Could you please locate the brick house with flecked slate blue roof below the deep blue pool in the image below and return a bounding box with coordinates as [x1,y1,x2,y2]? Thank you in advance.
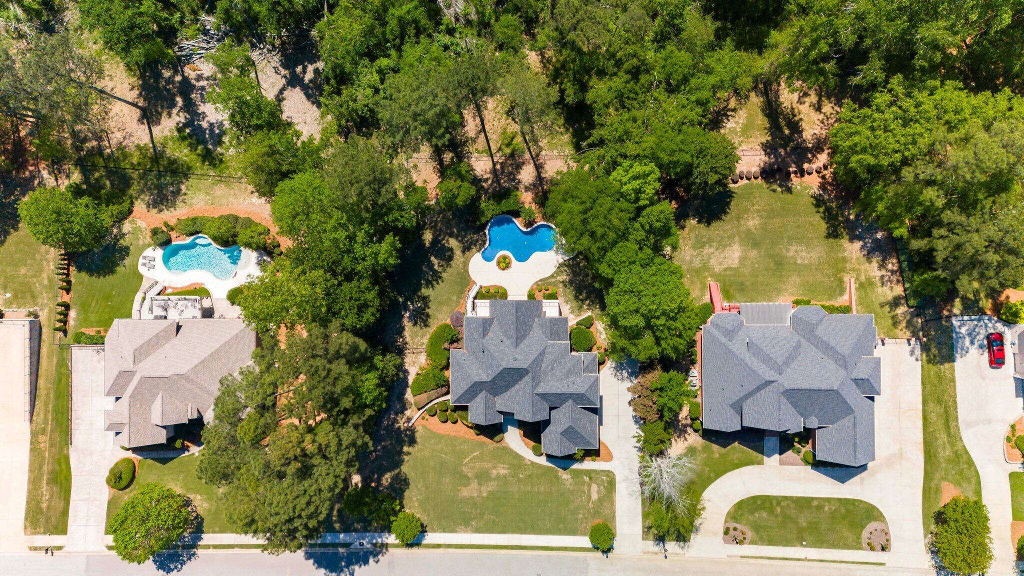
[450,300,599,457]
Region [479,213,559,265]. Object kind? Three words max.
swimming pool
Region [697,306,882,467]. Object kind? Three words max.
house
